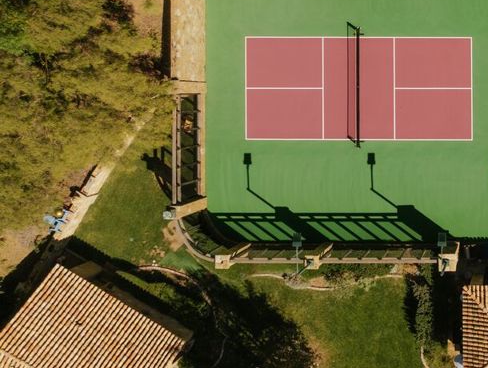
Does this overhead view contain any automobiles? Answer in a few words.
No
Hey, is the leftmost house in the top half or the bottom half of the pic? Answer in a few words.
bottom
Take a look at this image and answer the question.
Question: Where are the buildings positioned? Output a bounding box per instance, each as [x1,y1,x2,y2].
[462,275,488,368]
[0,259,205,368]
